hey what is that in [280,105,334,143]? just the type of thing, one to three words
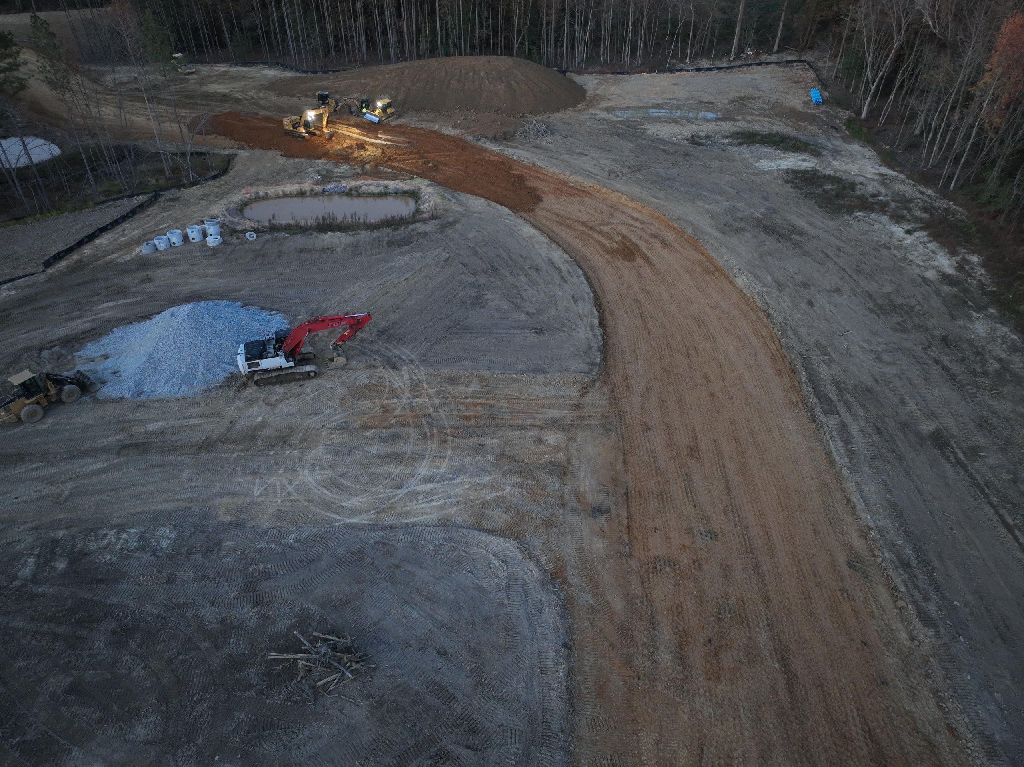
work vehicle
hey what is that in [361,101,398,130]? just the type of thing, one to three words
work vehicle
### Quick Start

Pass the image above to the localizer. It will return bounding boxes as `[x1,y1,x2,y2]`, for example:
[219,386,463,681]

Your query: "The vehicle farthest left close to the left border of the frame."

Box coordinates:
[0,365,109,430]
